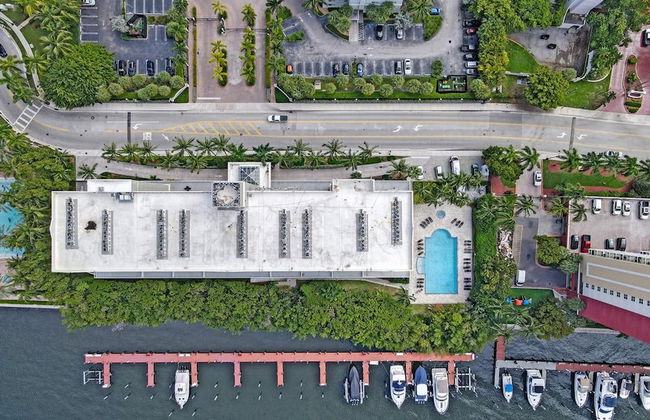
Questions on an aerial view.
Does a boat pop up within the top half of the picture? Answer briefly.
No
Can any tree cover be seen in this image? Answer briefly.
Yes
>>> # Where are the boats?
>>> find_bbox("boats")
[390,362,406,408]
[348,365,361,407]
[639,374,650,414]
[415,366,427,406]
[175,365,190,409]
[502,370,514,402]
[432,364,449,415]
[529,369,545,412]
[573,371,590,408]
[595,372,620,420]
[619,374,632,399]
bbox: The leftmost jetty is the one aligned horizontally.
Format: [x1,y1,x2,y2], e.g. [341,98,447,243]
[84,350,477,390]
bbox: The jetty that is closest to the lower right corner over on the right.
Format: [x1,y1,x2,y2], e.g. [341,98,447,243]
[492,334,650,393]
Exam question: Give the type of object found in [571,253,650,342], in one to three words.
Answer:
building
